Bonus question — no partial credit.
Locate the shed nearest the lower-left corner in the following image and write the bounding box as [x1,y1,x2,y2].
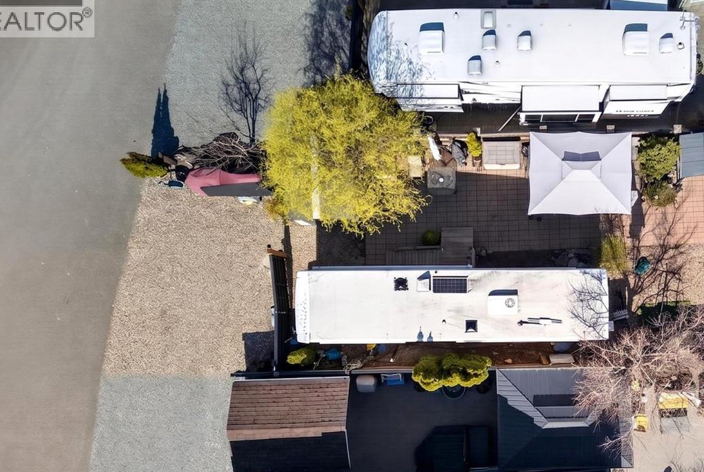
[226,373,357,472]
